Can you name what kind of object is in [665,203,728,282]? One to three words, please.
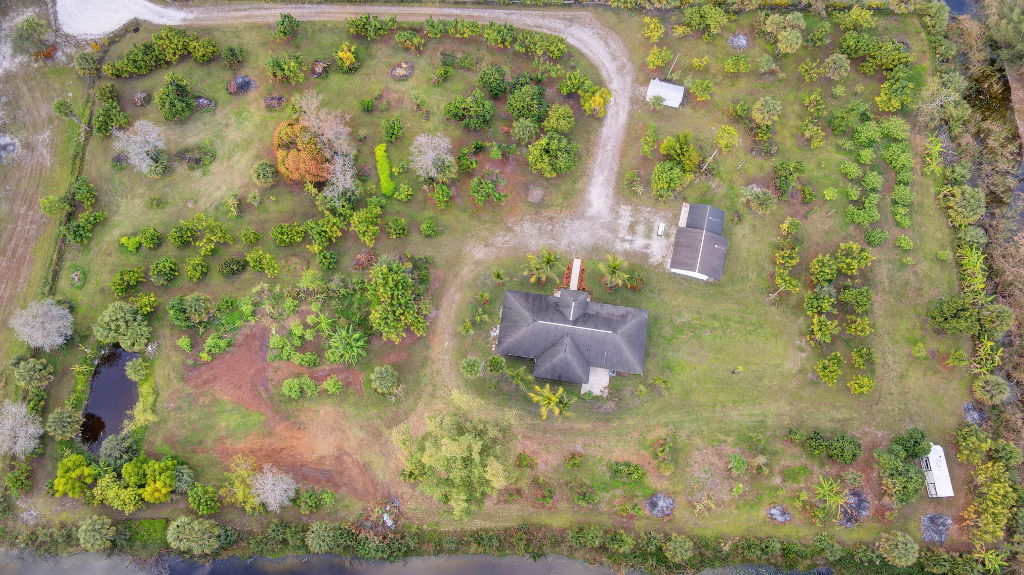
building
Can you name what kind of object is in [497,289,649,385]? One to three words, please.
house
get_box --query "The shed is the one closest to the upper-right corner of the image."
[646,79,684,108]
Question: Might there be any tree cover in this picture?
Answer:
Yes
